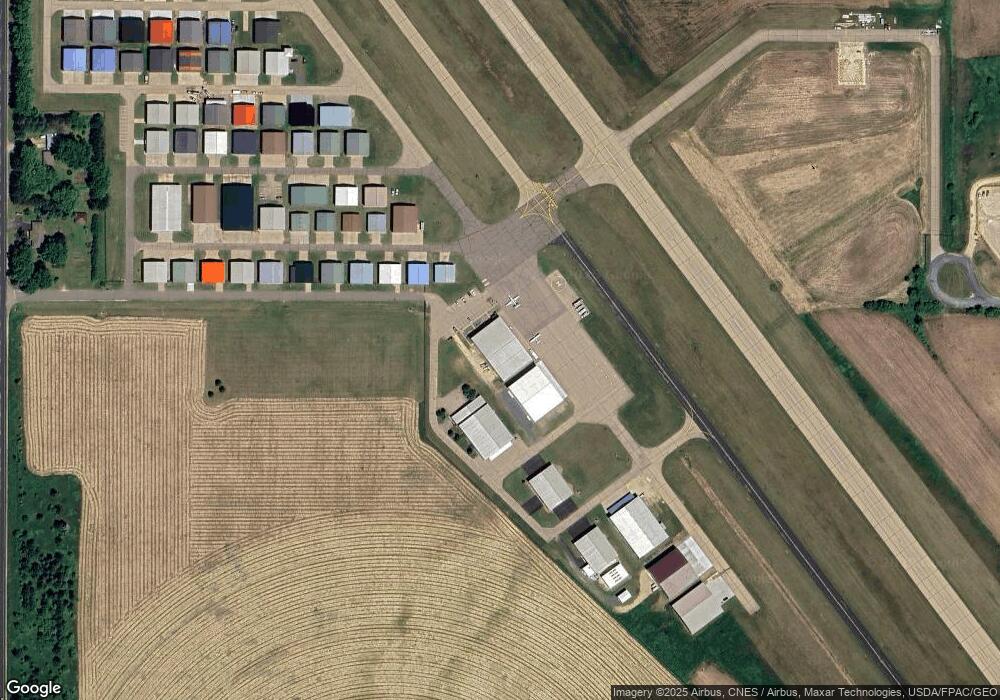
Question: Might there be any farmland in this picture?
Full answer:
Yes, farmland can be seen from above here.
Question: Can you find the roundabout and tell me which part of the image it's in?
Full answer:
The roundabout sits in the right section of the image.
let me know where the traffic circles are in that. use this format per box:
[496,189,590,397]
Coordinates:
[928,253,1000,307]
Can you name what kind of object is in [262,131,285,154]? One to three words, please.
hangar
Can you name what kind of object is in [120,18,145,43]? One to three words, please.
hangar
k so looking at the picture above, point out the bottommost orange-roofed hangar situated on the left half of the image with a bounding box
[201,262,224,282]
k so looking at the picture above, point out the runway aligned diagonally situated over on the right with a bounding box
[479,0,1000,693]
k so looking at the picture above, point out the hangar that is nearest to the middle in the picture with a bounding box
[472,316,533,383]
